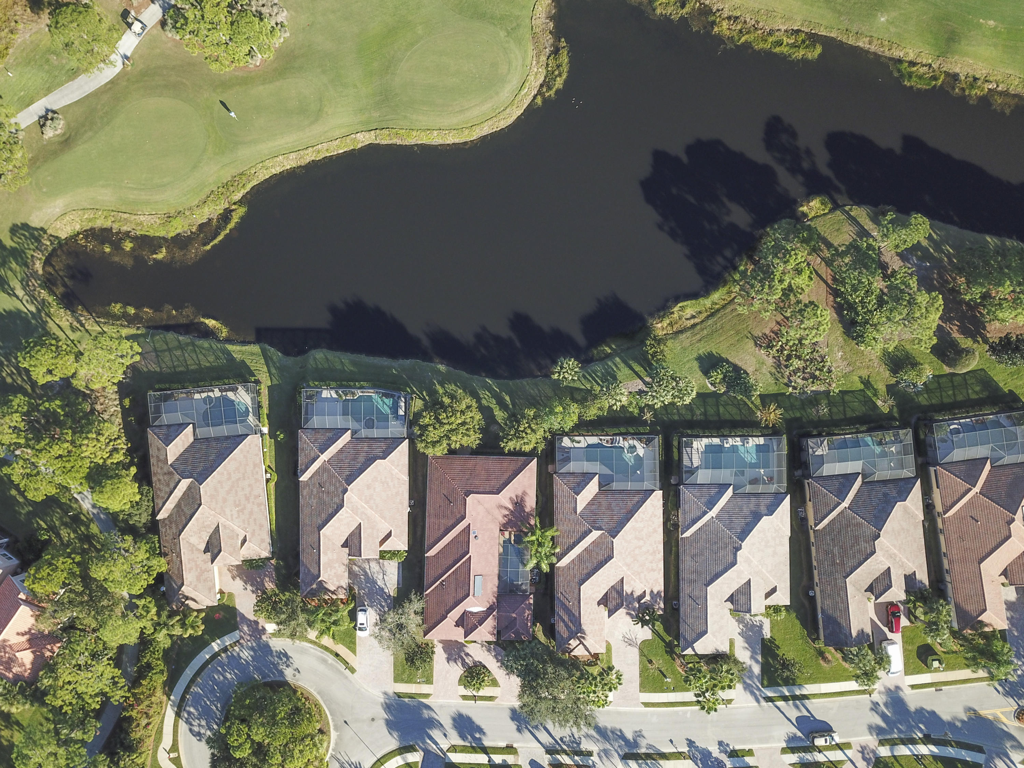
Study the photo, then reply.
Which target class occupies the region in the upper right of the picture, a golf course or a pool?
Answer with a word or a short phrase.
golf course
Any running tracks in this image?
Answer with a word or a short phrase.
No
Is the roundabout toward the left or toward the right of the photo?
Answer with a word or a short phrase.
left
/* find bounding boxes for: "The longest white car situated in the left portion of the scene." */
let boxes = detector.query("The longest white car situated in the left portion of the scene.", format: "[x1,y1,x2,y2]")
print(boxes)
[355,608,369,638]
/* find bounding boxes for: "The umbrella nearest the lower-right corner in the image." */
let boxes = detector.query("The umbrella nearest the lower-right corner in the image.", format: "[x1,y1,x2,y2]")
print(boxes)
[813,440,833,460]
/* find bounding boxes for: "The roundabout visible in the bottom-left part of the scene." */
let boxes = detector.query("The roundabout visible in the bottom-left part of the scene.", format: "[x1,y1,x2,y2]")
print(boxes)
[217,676,336,768]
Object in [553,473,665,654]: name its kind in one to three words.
house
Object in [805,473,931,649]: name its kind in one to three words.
house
